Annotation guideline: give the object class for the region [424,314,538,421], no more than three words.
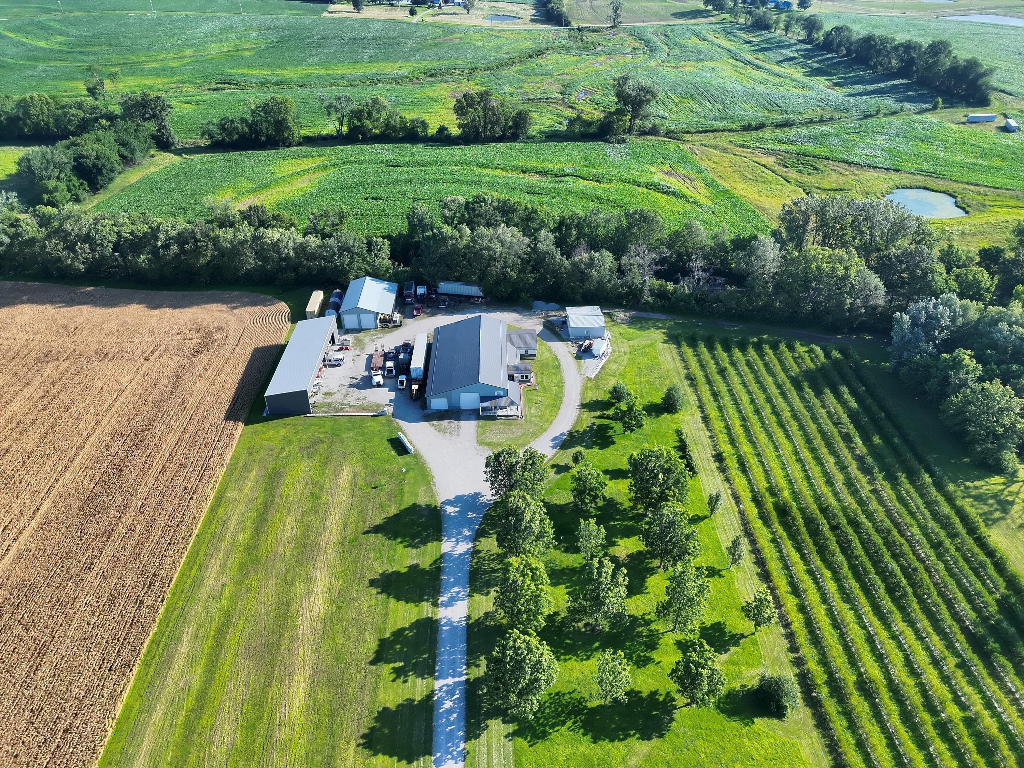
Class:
barn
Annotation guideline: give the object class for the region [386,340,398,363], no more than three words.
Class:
vehicle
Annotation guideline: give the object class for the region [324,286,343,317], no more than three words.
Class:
shed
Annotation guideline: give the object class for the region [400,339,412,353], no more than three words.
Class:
vehicle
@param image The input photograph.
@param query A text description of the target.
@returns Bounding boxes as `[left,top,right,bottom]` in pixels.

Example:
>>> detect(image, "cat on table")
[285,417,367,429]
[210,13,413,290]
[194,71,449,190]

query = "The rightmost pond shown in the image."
[887,188,966,217]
